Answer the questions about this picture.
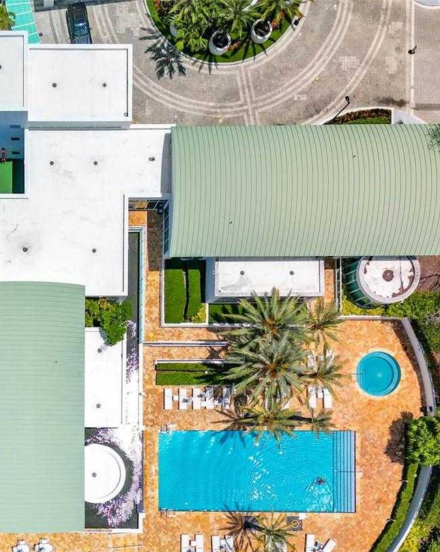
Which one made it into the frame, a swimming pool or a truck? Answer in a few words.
swimming pool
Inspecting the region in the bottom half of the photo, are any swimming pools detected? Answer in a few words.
Yes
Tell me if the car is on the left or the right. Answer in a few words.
left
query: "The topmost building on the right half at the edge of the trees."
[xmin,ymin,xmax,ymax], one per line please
[163,124,440,263]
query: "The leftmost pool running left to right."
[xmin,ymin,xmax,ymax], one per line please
[158,424,368,514]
